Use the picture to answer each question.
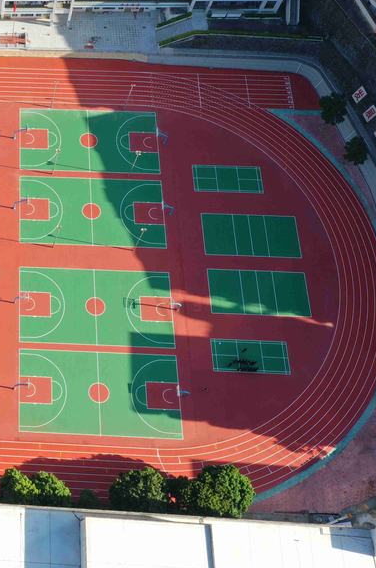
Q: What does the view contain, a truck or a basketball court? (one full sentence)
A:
It is a basketball court that can be seen here.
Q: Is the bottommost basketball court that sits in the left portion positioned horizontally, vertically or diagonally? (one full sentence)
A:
The bottommost basketball court that sits in the left portion is laid out horizontally.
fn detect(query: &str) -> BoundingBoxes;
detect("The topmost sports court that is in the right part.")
[193,165,263,194]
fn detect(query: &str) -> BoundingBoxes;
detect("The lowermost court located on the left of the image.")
[19,348,183,439]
